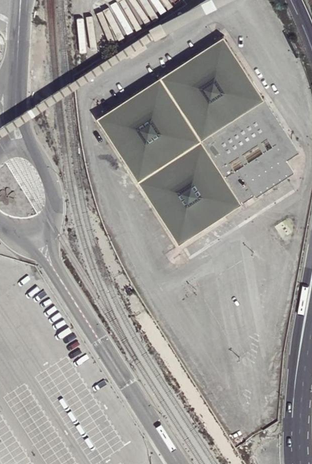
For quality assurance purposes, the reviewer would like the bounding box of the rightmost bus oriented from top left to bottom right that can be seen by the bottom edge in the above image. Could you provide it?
[155,426,176,452]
